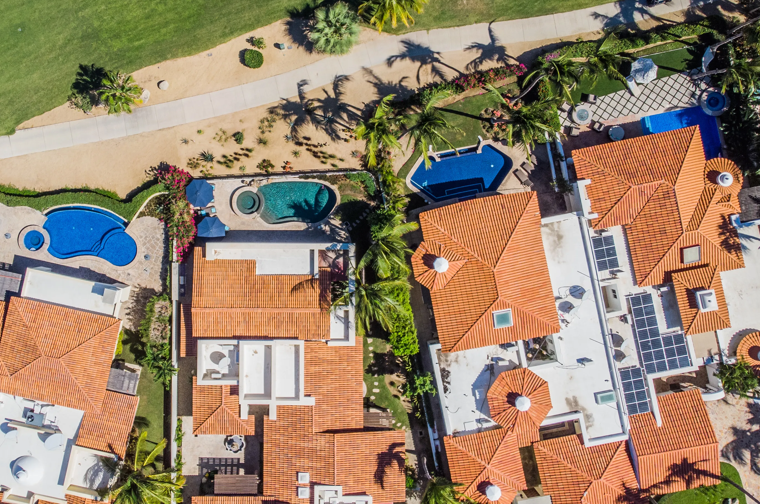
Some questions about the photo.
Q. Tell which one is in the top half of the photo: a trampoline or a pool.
pool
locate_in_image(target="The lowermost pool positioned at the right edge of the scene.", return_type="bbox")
[637,103,725,163]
